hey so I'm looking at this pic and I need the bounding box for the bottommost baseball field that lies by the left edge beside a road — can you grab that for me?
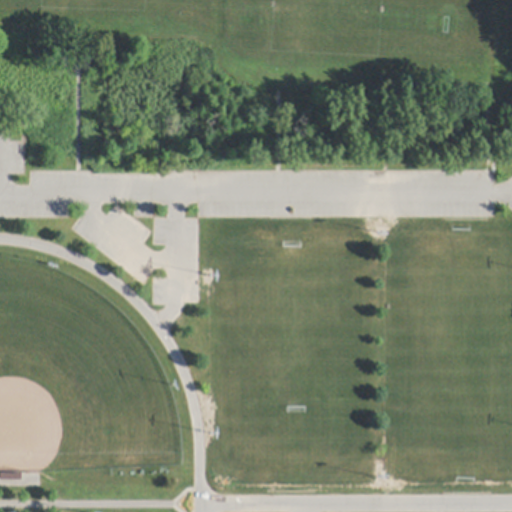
[0,254,183,470]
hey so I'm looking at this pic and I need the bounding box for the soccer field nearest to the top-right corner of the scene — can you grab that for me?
[270,0,470,56]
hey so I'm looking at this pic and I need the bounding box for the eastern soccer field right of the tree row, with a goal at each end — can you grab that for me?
[386,220,512,483]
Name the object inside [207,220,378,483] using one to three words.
soccer field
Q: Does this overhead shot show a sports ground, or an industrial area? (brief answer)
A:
sports ground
